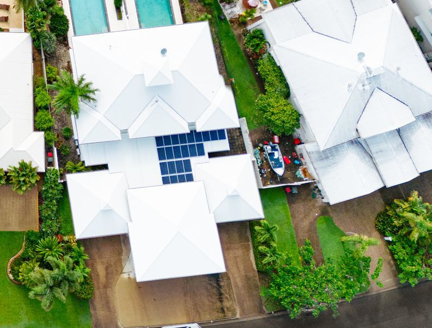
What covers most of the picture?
buildings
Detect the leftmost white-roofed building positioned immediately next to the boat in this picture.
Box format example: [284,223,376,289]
[65,22,264,283]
